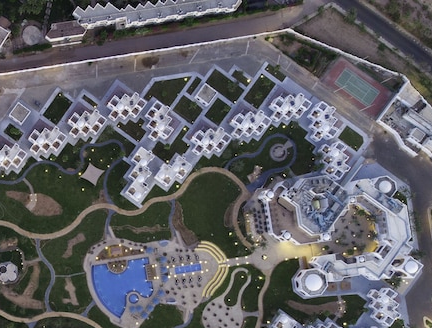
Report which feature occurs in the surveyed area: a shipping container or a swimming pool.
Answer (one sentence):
I can see a swimming pool in this picture.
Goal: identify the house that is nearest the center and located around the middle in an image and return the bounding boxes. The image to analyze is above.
[190,127,230,155]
